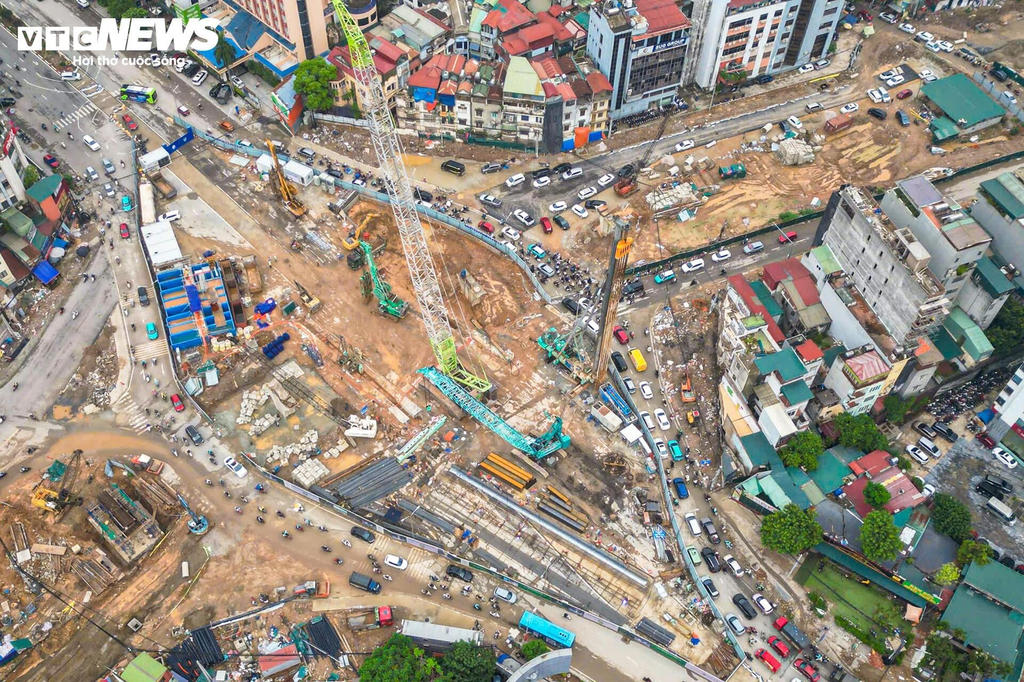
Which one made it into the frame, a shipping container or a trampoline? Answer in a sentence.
Looking from above, you can make out a shipping container.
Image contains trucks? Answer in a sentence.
Yes, a truck can be made out from above.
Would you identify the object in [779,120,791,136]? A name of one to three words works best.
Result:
vehicle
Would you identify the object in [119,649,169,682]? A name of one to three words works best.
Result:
shed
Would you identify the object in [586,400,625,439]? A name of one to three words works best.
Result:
shipping container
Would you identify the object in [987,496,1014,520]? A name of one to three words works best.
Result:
vehicle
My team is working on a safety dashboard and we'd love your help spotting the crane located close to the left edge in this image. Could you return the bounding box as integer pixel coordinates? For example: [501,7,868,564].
[28,449,93,514]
